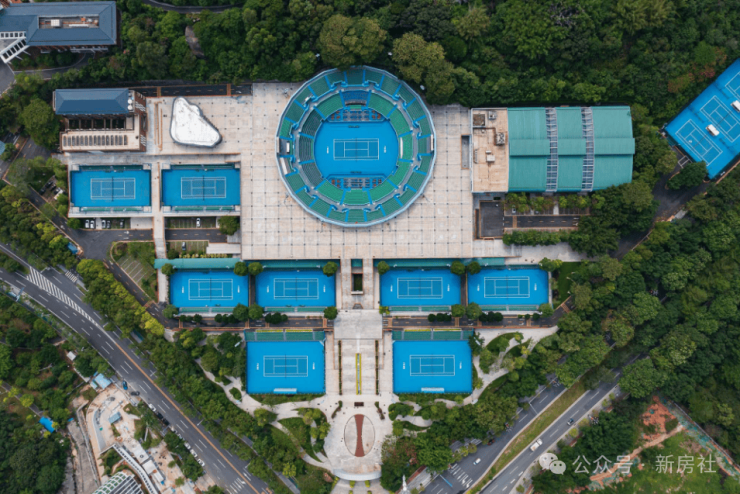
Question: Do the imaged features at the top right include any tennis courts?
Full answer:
Yes, a tennis court shows up at the top right.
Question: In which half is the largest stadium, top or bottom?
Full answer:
Seen from above, the largest stadium lies in the top half of the view.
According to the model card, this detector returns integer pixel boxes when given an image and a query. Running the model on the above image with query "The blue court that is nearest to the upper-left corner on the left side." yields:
[70,170,150,206]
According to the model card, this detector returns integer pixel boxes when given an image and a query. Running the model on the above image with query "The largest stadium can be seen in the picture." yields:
[275,66,436,226]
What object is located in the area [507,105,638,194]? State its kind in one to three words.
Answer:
building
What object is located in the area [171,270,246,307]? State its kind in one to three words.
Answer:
tennis court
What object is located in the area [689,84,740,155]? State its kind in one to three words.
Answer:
tennis court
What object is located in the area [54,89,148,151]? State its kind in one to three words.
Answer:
building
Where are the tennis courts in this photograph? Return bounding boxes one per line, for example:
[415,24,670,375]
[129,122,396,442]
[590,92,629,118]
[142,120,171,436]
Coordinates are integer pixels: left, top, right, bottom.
[257,270,335,306]
[715,61,740,109]
[689,84,740,155]
[70,170,150,206]
[393,342,472,394]
[163,169,238,205]
[665,108,733,176]
[171,270,246,307]
[247,342,324,394]
[469,269,548,305]
[387,269,460,306]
